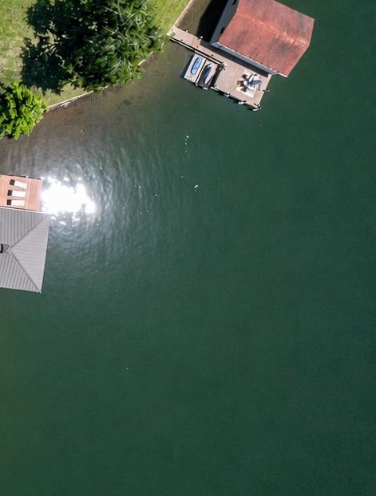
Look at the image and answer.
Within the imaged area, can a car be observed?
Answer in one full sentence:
No, no car is visible in the view.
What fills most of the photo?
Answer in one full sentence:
What you mostly see from above here is water.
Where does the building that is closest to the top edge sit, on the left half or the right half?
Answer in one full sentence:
You can find the building that is closest to the top edge on the right side of the picture.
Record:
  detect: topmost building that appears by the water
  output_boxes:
[202,0,314,77]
